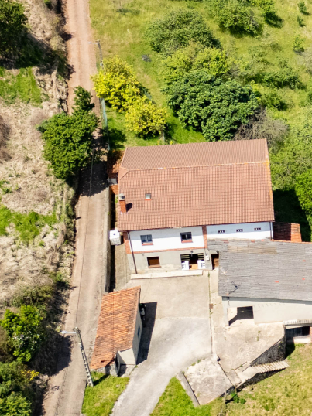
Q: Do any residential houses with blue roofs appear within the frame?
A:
No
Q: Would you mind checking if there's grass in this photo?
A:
Yes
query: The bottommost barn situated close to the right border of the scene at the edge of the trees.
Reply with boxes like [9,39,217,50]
[217,237,312,350]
